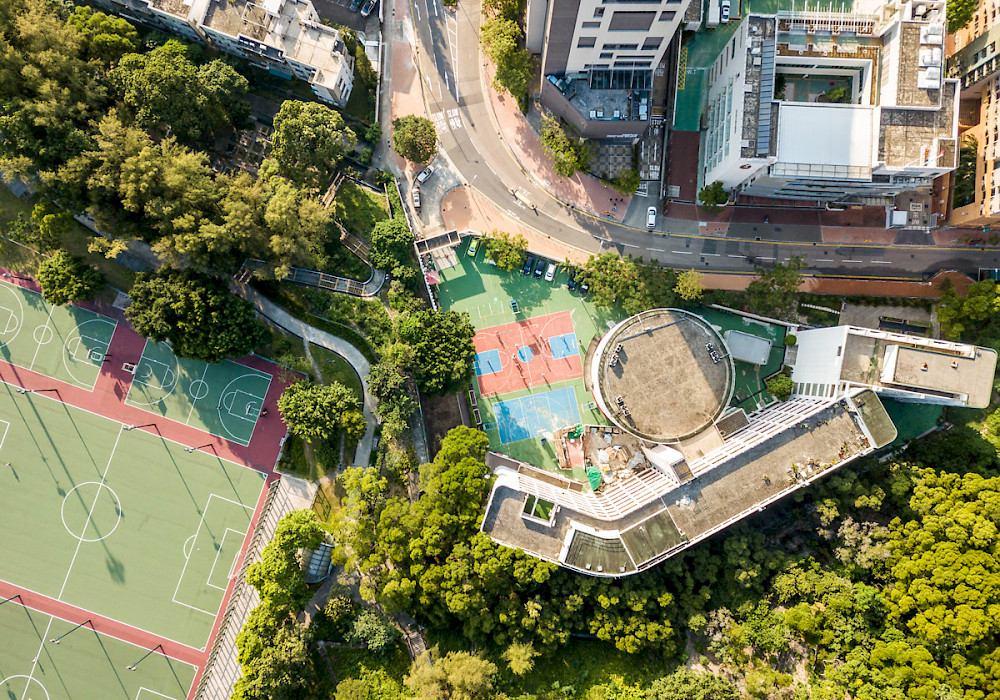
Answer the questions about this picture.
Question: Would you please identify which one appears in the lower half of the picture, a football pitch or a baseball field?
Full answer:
The feature located in the lower half of the picture is a football pitch.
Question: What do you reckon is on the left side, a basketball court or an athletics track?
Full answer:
The one visible on the left side is a basketball court.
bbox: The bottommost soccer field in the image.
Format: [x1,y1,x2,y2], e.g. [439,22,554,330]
[0,597,197,700]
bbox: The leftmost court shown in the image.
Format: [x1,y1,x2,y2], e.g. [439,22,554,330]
[0,280,116,391]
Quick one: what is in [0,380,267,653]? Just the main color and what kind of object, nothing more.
green soccer field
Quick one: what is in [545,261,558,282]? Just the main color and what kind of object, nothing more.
white vehicle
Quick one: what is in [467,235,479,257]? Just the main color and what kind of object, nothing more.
green vehicle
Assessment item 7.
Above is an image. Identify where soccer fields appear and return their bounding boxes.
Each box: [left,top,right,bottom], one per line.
[0,597,197,700]
[0,380,267,653]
